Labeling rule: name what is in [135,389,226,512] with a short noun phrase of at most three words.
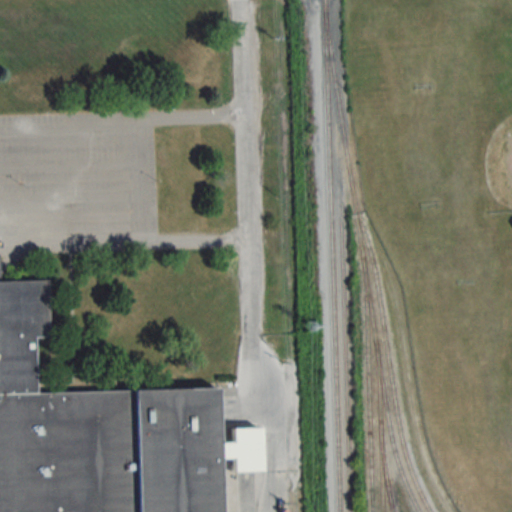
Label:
building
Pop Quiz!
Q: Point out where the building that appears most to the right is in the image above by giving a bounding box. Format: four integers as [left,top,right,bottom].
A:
[225,427,266,473]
